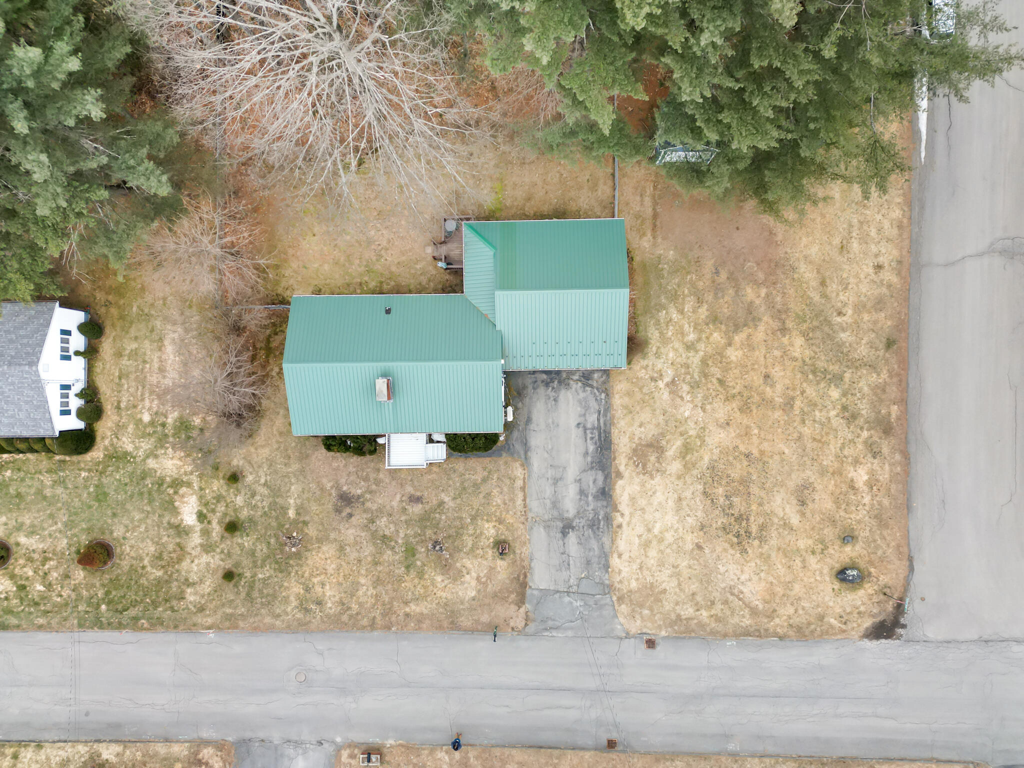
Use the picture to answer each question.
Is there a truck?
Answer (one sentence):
No, this view has no truck in it.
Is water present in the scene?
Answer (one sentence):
No, the scene doesn't show any water.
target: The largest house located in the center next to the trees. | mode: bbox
[283,216,629,437]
